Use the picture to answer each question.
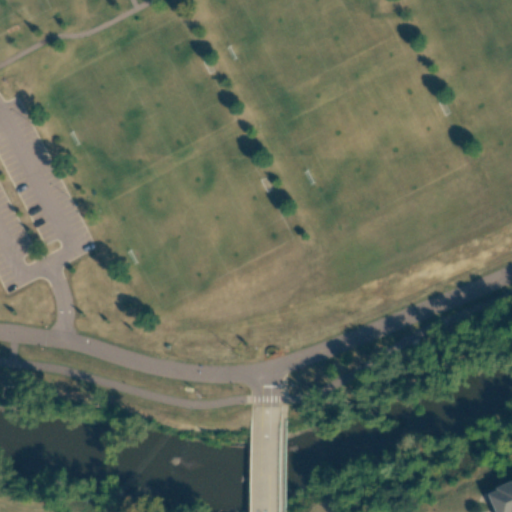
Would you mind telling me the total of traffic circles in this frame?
none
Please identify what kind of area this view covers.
sports ground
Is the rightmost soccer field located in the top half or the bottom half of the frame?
top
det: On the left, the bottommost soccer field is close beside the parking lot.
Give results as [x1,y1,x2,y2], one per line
[104,134,294,308]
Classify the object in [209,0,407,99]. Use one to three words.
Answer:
soccer field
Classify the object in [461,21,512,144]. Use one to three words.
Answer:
soccer field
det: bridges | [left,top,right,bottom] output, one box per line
[250,405,288,512]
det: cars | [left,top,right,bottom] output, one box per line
[17,184,28,192]
[85,244,96,252]
[6,284,17,292]
[29,206,40,214]
[34,218,45,226]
